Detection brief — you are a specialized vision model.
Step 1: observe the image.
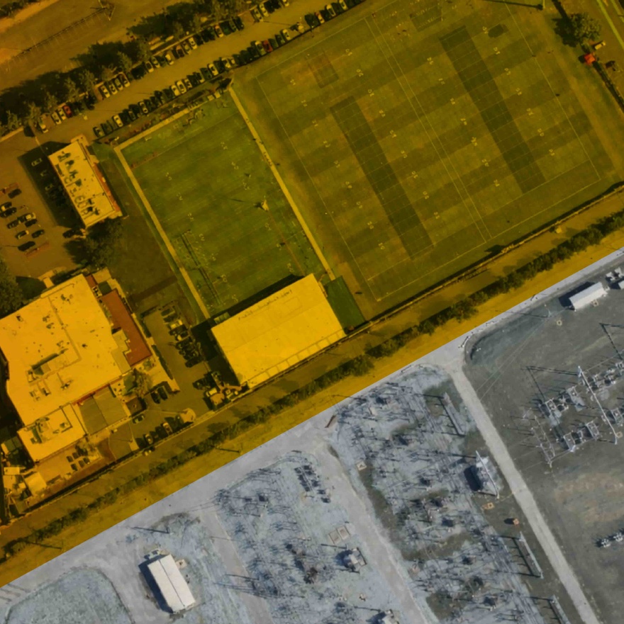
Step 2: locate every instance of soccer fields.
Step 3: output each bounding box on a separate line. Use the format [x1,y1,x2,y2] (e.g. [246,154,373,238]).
[236,0,624,319]
[97,80,366,331]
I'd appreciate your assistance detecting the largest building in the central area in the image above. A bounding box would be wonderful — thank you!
[210,274,347,389]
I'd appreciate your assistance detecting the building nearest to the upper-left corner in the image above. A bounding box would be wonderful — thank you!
[48,135,123,232]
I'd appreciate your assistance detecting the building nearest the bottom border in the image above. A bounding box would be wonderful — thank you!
[149,555,196,614]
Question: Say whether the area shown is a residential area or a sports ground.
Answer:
sports ground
